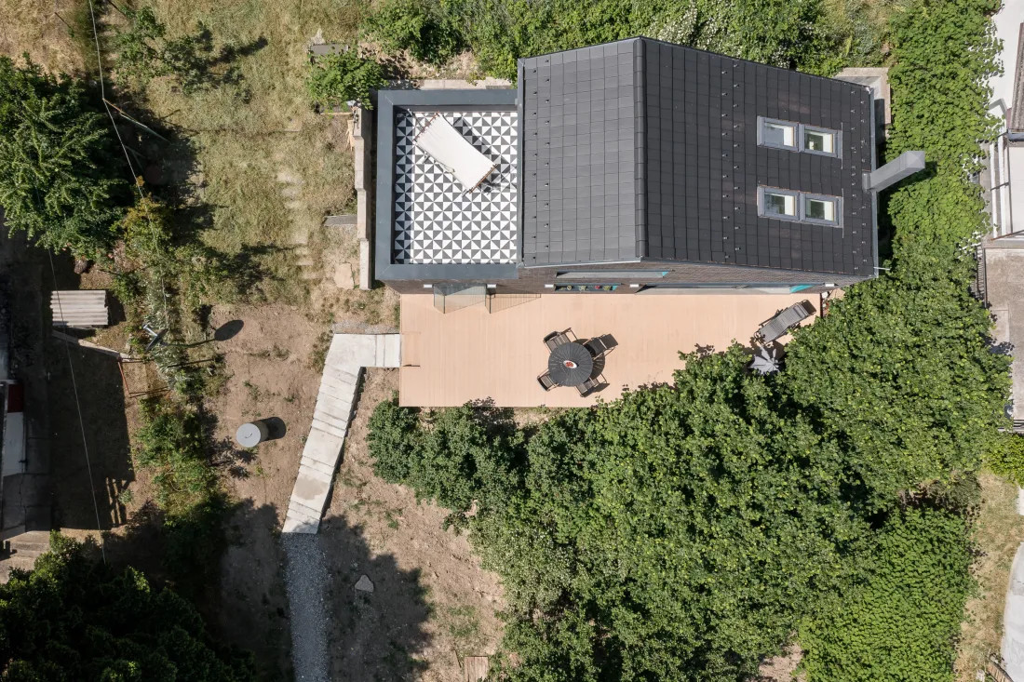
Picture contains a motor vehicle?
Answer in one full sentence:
No, there is no motor vehicle in the image.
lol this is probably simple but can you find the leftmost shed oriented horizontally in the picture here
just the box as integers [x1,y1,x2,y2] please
[50,290,136,330]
